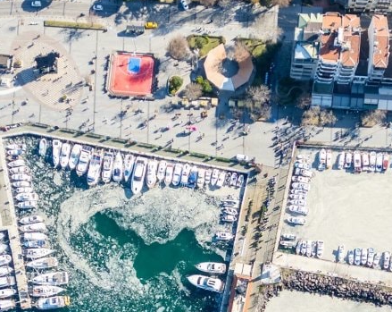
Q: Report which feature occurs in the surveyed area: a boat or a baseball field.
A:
boat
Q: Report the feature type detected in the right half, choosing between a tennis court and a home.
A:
home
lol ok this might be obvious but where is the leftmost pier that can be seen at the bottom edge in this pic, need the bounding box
[6,224,30,310]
